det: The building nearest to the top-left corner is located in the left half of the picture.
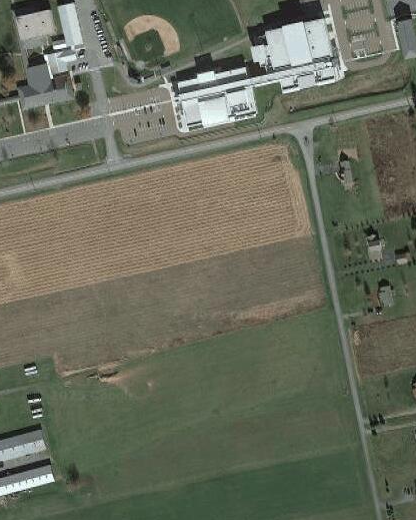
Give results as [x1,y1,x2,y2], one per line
[15,9,57,40]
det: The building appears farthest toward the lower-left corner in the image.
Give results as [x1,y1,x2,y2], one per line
[0,464,55,497]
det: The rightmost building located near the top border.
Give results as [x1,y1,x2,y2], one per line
[397,19,416,60]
